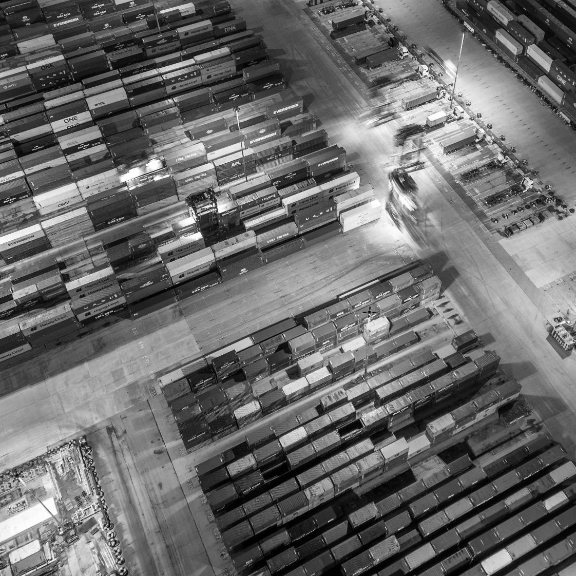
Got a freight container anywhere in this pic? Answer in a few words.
Yes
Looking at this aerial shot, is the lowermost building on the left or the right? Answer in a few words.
left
